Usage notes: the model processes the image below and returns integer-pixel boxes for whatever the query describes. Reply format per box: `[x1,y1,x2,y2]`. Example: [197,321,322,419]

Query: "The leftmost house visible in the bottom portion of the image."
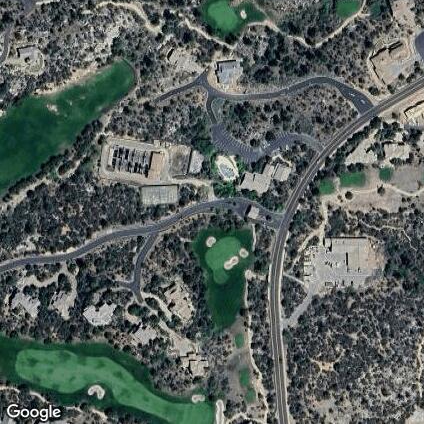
[8,290,41,319]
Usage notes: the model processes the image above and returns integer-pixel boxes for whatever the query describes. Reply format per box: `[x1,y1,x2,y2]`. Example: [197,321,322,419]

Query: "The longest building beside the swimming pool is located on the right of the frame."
[240,162,292,192]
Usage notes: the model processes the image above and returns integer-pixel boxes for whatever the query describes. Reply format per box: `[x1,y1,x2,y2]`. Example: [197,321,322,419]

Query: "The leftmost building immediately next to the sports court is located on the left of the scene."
[148,150,163,179]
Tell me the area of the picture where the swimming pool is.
center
